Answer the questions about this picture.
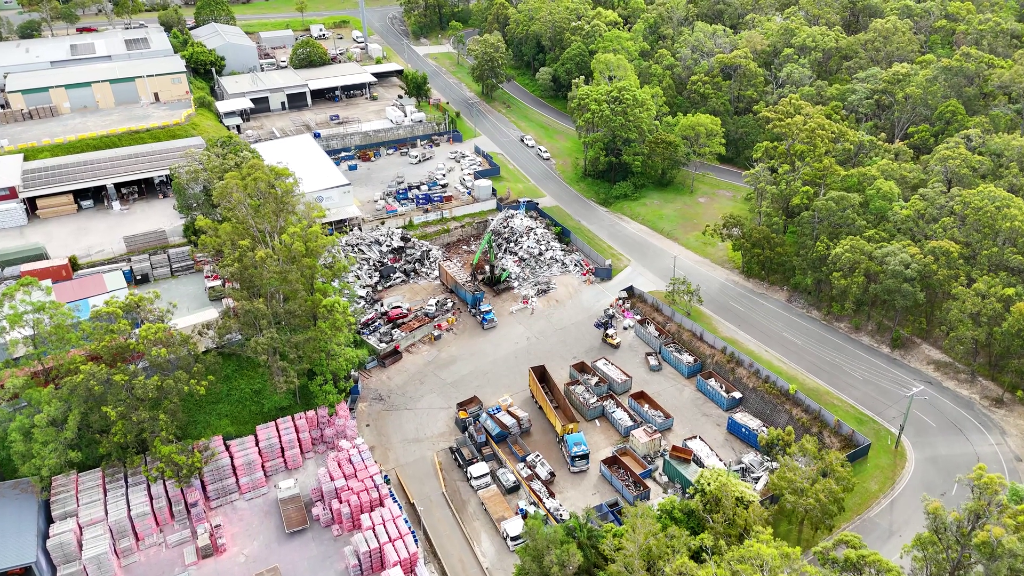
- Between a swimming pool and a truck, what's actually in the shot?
truck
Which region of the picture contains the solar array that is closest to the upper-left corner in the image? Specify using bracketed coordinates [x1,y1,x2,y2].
[70,41,96,55]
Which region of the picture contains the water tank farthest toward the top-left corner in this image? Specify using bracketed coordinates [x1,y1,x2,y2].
[472,178,493,203]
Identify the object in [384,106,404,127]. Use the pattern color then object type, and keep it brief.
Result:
white vehicle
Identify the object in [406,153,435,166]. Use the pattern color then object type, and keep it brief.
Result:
white vehicle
